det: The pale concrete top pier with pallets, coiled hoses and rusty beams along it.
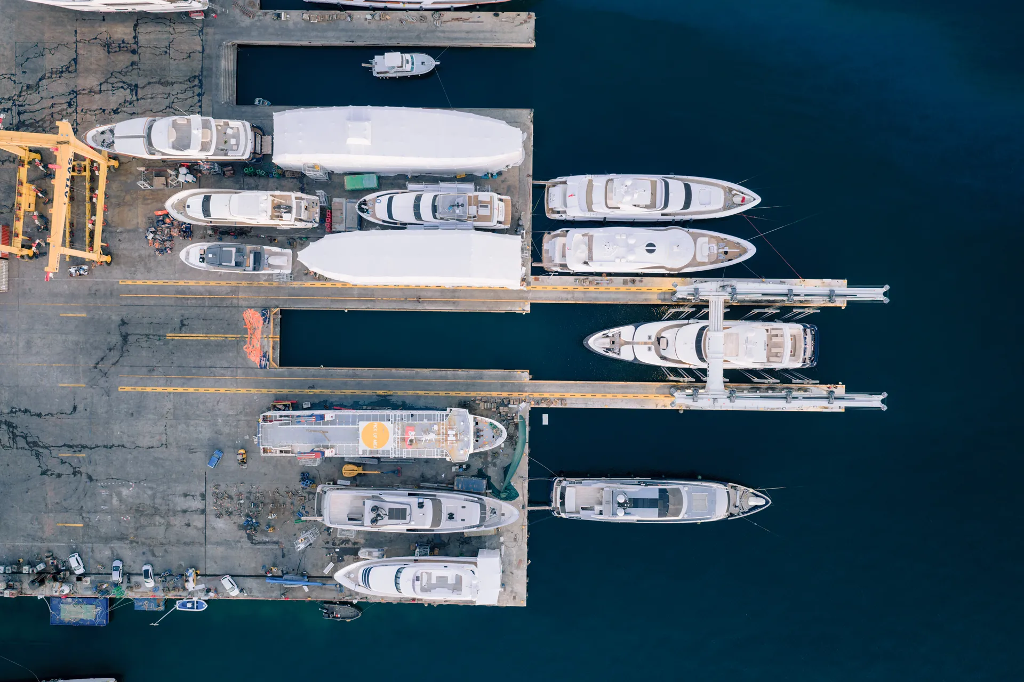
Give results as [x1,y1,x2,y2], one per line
[260,9,535,50]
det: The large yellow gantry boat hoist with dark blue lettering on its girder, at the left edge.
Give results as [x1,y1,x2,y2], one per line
[0,117,128,294]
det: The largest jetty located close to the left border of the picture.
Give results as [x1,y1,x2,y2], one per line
[50,597,112,626]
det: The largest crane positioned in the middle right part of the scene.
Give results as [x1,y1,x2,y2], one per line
[658,281,889,412]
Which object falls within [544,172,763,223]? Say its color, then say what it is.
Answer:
white boat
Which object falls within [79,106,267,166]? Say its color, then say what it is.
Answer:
white boat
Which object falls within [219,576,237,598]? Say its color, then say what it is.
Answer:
white car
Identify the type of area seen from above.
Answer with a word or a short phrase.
port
